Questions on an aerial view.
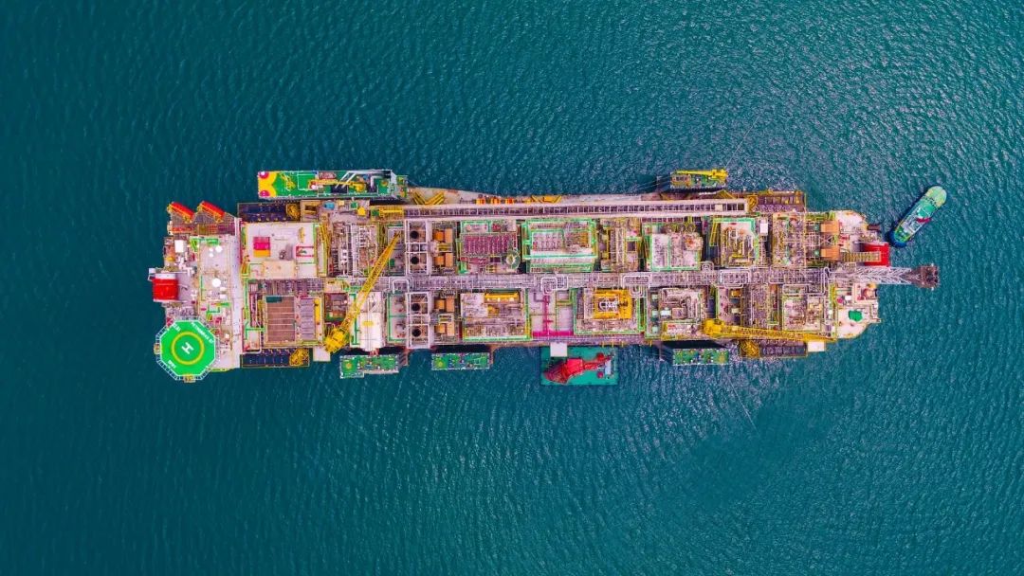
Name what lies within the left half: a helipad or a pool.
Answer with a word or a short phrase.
helipad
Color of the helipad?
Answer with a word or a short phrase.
green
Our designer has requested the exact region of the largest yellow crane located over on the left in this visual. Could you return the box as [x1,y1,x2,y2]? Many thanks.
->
[322,231,404,355]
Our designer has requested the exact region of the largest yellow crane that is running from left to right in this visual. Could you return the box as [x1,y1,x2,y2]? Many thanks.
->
[703,312,839,343]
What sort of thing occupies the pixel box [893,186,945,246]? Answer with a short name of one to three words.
boat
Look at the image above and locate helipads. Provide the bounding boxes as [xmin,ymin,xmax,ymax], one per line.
[154,316,226,381]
